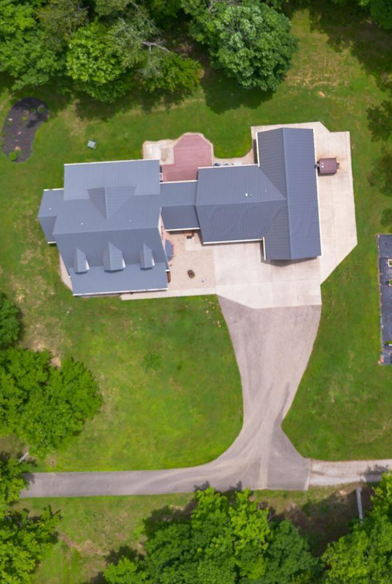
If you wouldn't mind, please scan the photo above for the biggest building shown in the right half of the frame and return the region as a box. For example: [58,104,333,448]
[196,127,322,260]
